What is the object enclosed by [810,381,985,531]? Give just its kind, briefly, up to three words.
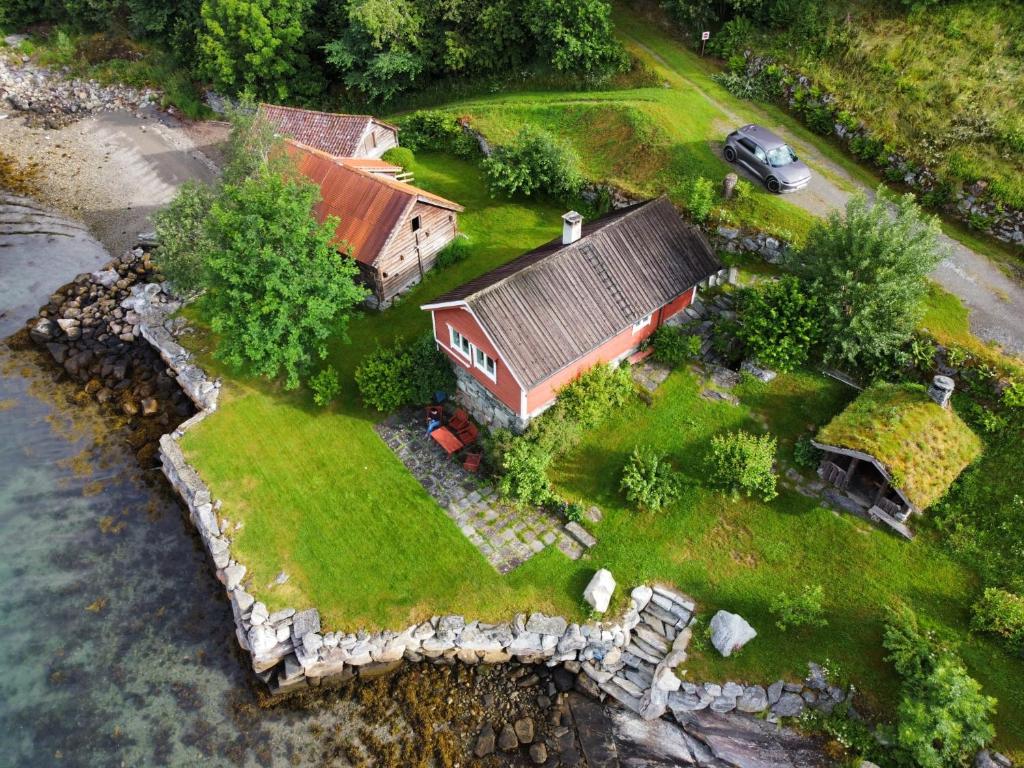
shed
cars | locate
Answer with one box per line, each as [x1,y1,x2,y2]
[724,119,816,197]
